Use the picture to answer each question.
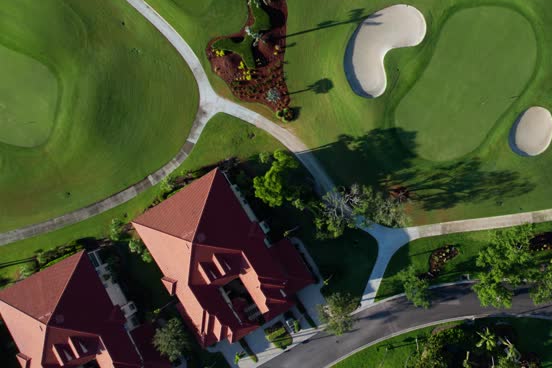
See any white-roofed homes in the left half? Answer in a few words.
No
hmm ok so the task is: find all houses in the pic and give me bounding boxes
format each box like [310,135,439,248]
[0,240,190,368]
[132,165,317,350]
